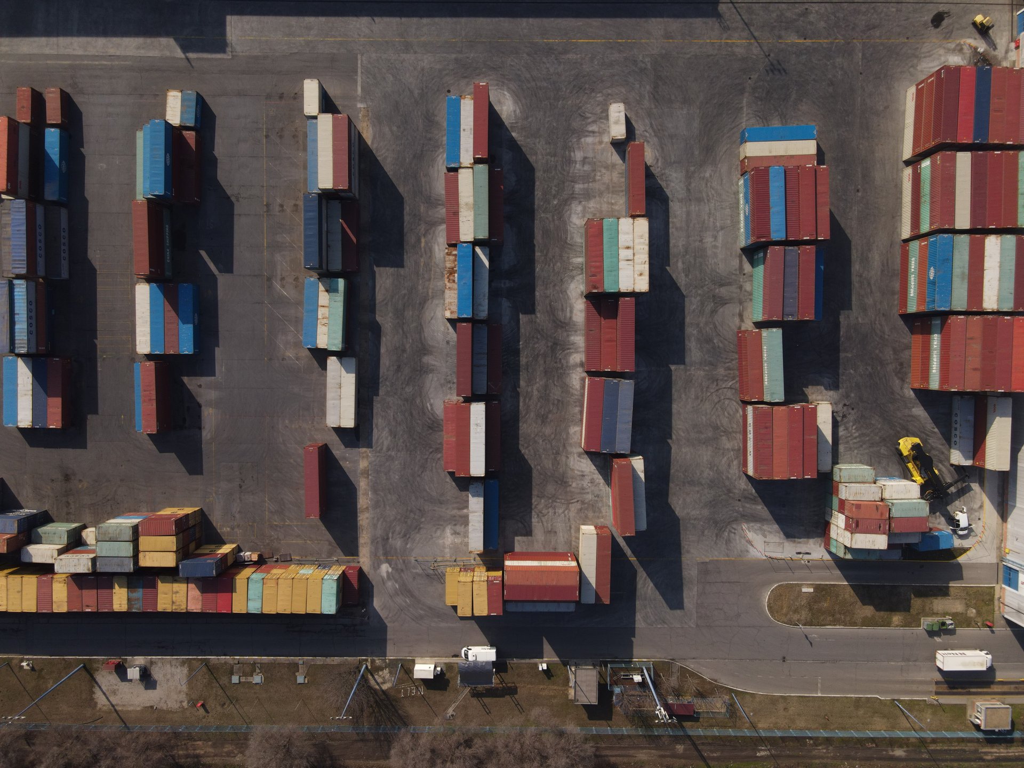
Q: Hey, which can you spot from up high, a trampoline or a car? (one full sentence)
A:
The one in the frame is a car.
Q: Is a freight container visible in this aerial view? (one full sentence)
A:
Yes, the frame does contain a freight container.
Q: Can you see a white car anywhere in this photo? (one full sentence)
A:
Yes, the photo shows a white car.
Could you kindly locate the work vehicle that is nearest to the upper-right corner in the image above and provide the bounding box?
[977,13,1003,37]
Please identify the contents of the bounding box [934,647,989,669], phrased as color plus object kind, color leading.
white truck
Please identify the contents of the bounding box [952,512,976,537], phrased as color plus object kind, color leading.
white car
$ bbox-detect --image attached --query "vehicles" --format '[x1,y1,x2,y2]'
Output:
[977,13,1003,37]
[900,438,964,501]
[462,642,496,658]
[952,512,976,537]
[934,647,989,669]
